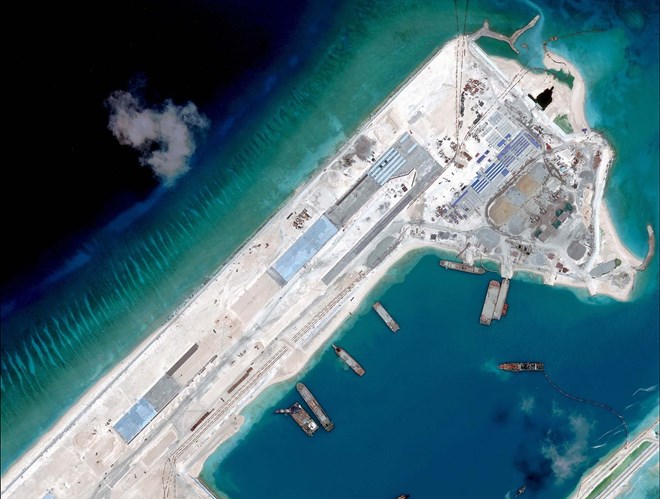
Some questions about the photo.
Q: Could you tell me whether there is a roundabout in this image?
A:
No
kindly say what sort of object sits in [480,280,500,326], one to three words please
ship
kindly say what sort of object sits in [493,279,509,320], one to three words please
ship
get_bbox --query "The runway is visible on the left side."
[113,173,382,445]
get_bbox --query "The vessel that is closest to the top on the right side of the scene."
[439,259,486,275]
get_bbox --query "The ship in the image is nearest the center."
[373,301,400,333]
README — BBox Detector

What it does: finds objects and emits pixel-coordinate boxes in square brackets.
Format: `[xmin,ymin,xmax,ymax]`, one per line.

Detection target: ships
[333,346,365,377]
[493,279,509,320]
[480,280,500,326]
[276,404,320,435]
[498,362,544,372]
[298,384,334,432]
[439,259,486,275]
[373,301,400,333]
